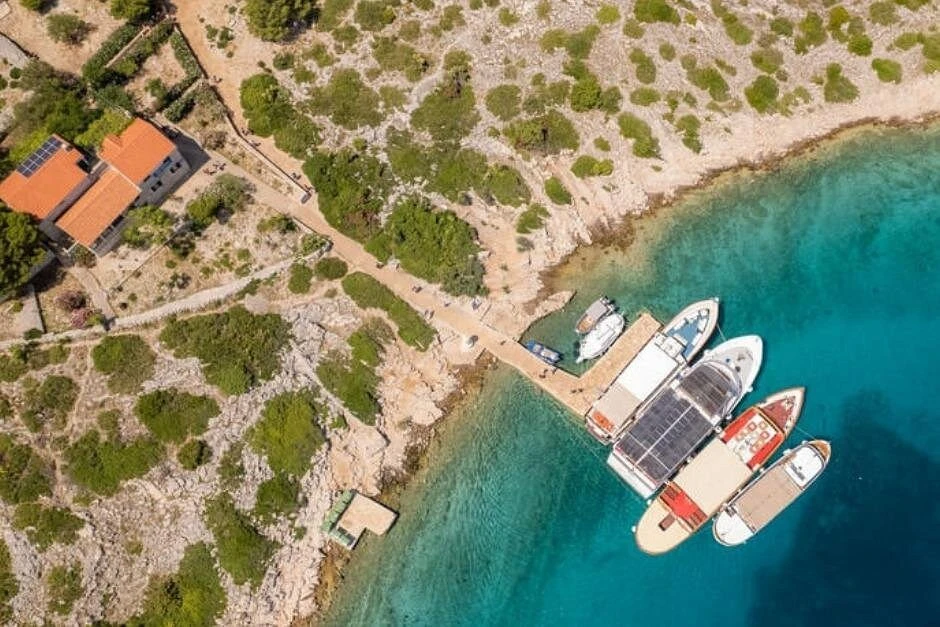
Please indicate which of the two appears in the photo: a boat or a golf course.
boat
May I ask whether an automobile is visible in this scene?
No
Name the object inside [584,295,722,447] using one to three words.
boat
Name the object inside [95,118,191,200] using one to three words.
house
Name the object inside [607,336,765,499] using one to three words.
boat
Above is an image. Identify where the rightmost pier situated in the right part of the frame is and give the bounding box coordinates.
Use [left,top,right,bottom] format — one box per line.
[476,313,661,416]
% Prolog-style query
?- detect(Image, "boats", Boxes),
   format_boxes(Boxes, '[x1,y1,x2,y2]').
[525,341,561,364]
[628,386,805,547]
[574,294,616,331]
[707,440,834,547]
[607,336,765,499]
[576,309,627,362]
[584,295,722,447]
